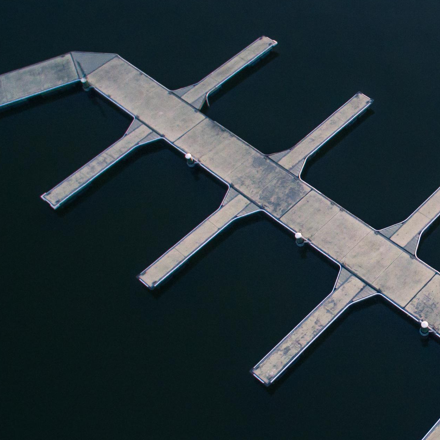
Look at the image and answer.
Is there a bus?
No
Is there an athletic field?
No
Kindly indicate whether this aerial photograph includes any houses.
No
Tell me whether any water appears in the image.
Yes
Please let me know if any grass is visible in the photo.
No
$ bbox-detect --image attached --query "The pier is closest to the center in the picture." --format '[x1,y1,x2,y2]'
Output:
[138,184,265,292]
